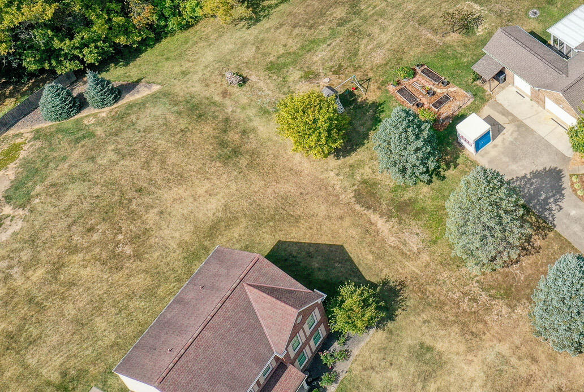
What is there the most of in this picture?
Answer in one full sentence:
The bulk of the photo consists of grass.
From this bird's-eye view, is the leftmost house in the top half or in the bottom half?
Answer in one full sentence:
The leftmost house sits in the bottom half of the picture.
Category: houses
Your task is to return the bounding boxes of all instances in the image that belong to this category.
[111,244,329,392]
[471,3,584,136]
